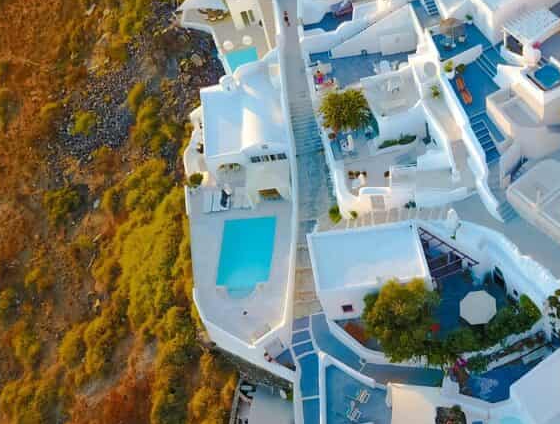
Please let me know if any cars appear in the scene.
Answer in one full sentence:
No, I find no car anywhere in the image.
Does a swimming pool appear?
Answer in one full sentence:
Yes, a swimming pool appears in the view.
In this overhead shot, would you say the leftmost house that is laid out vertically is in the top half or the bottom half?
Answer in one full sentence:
You can find the leftmost house that is laid out vertically in the top half.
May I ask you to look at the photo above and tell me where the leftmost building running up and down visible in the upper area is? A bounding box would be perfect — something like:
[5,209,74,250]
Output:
[200,87,247,174]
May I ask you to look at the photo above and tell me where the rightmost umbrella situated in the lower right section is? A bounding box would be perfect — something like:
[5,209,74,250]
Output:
[455,289,502,333]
